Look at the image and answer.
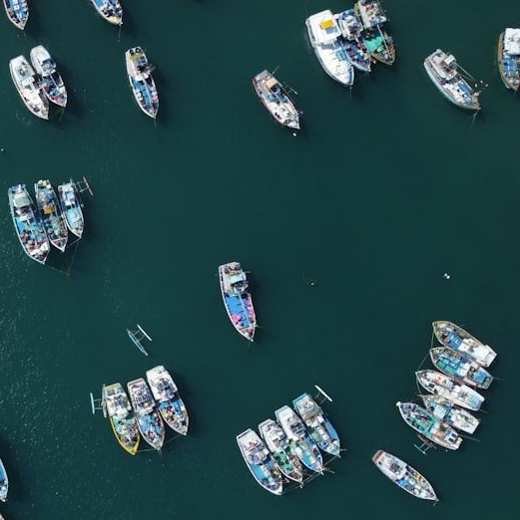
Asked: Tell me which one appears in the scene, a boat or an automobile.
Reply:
boat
